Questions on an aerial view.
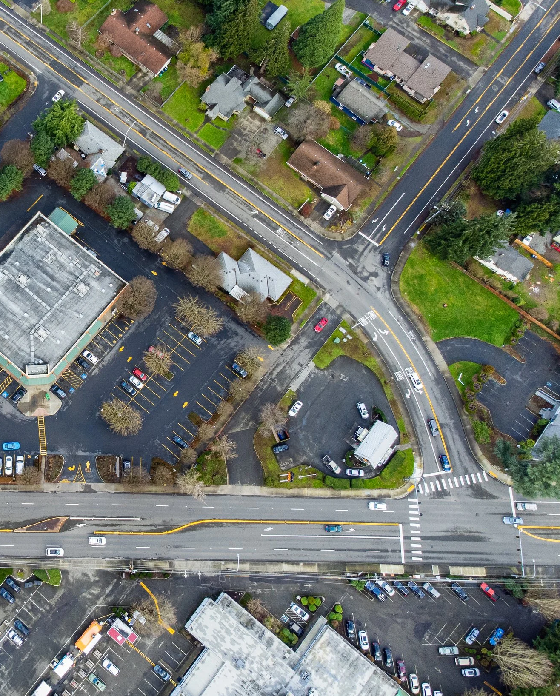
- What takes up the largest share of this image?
paved ground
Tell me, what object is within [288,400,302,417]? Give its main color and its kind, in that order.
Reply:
white car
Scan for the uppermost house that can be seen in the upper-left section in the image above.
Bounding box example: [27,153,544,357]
[98,0,174,78]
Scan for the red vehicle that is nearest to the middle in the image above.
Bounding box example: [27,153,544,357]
[314,318,327,333]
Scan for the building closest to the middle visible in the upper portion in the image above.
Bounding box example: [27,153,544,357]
[213,247,293,302]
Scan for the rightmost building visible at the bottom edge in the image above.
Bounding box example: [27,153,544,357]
[164,591,409,696]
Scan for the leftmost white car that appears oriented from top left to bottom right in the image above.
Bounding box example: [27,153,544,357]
[7,628,24,648]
